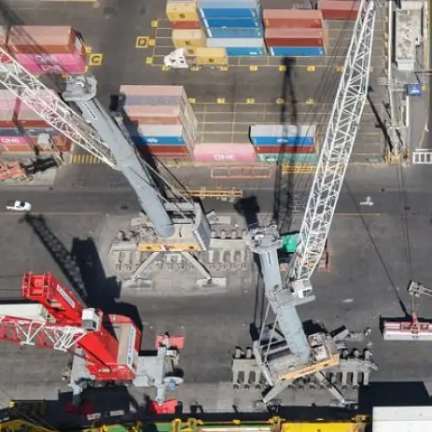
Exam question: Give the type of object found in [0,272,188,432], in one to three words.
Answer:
crane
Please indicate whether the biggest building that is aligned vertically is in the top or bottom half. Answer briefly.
top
